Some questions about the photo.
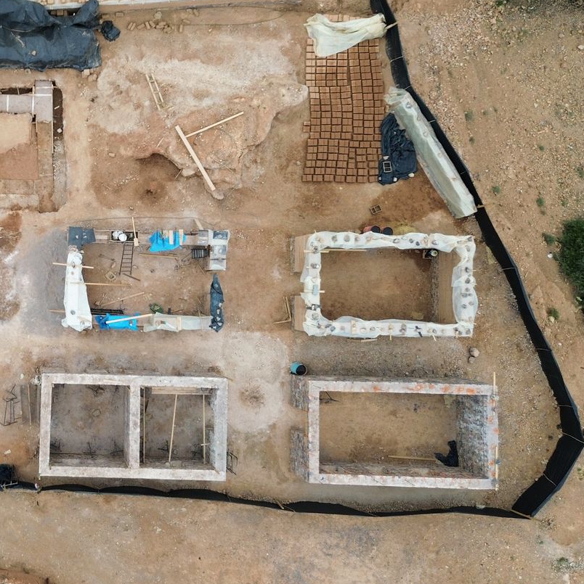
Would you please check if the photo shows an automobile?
No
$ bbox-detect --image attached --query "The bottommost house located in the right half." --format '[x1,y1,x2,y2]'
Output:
[290,374,498,491]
